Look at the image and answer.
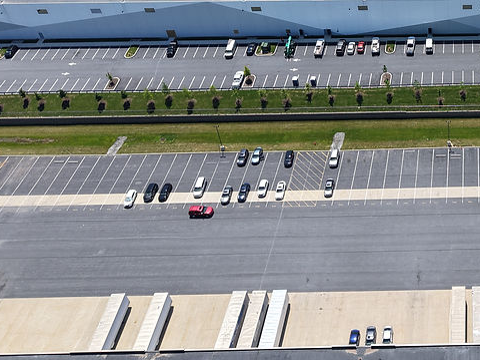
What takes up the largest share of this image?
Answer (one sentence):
The bulk of the photo consists of paved ground.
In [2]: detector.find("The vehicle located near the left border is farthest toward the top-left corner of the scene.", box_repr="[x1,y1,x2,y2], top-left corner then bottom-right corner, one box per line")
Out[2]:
[4,44,20,58]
